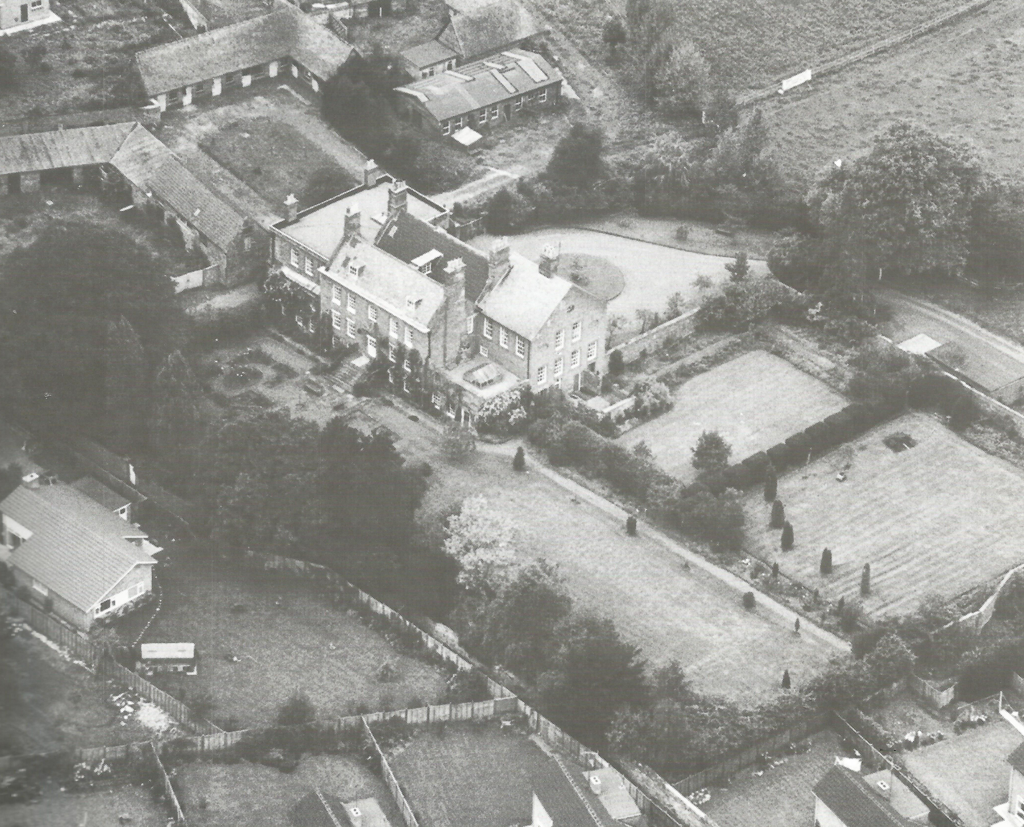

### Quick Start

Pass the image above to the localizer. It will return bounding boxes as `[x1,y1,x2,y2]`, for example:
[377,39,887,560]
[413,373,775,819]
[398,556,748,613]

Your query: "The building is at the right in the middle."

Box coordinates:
[898,332,941,369]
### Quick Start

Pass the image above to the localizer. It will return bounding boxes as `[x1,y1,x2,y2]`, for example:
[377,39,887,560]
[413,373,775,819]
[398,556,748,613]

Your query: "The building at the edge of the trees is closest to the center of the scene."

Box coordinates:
[268,174,614,439]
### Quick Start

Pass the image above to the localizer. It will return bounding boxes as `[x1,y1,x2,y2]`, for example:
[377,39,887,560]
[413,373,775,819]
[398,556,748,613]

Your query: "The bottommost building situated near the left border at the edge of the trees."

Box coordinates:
[0,475,164,630]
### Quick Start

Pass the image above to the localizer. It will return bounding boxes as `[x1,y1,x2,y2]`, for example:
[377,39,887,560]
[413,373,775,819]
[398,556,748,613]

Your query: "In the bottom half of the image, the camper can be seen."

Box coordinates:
[143,642,206,673]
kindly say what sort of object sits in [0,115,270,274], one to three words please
shed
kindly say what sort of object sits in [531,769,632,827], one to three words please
house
